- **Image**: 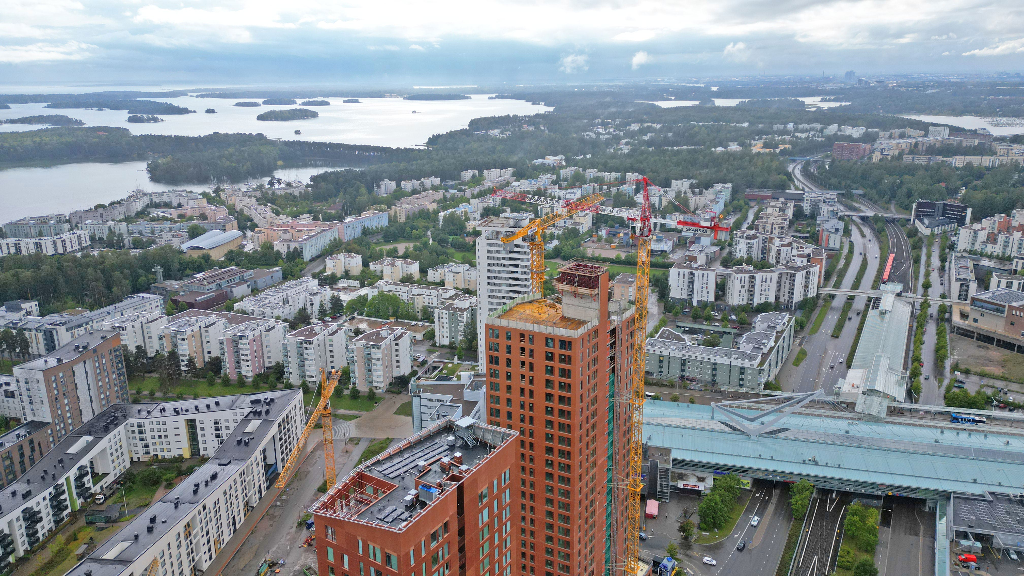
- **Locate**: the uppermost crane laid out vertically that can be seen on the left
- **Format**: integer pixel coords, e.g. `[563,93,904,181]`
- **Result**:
[275,365,342,501]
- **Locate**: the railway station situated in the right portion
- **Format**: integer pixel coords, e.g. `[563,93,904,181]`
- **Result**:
[832,282,913,422]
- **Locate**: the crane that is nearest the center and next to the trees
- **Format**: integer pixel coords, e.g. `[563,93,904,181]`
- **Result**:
[498,193,604,295]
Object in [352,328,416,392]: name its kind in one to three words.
building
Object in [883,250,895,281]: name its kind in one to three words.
train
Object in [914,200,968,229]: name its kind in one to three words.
building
